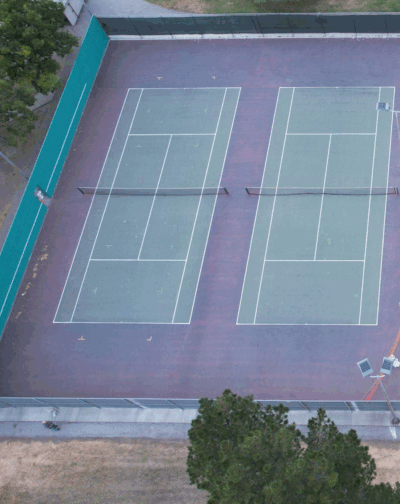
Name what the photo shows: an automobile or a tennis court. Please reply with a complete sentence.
The image shows a tennis court.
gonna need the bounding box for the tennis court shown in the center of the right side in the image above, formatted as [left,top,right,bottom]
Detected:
[237,88,394,324]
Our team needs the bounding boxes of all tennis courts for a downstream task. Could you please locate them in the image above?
[52,88,242,338]
[237,88,394,324]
